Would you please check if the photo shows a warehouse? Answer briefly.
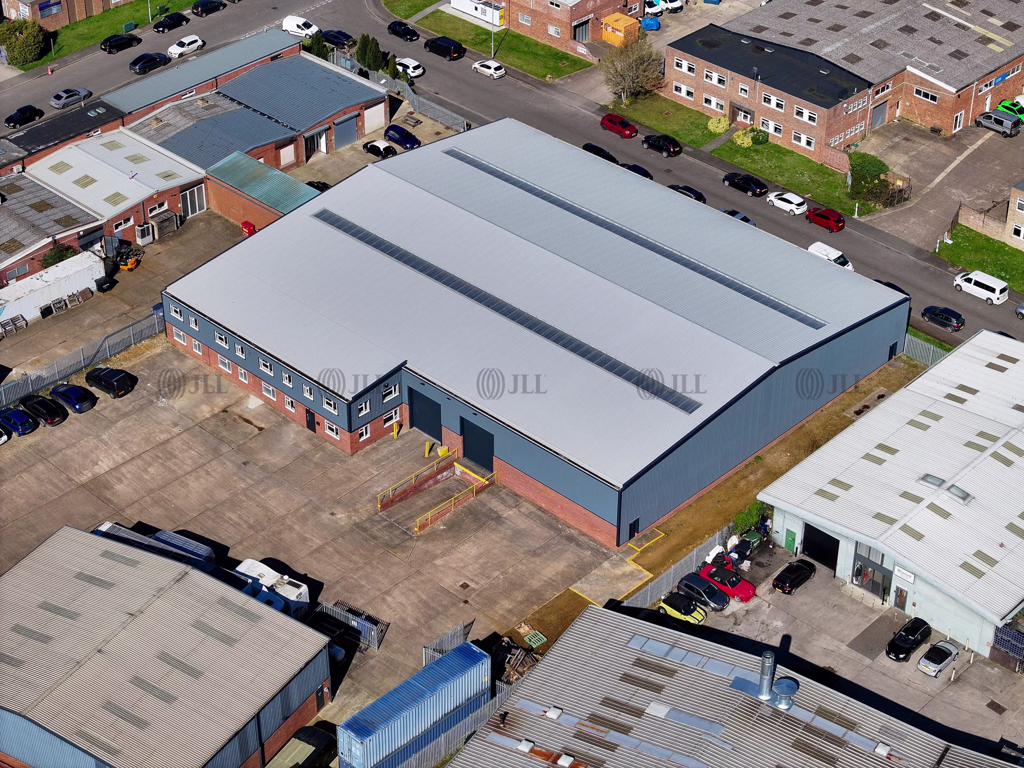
Yes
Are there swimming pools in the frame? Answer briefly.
No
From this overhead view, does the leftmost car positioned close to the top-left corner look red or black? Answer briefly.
black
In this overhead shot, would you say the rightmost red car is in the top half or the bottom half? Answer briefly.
top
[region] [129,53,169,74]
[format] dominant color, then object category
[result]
black car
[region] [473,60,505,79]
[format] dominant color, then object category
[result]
white car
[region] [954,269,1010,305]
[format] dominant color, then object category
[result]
white van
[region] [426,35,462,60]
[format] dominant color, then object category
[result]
black vehicle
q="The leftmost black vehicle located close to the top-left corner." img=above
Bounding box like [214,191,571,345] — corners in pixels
[4,104,41,128]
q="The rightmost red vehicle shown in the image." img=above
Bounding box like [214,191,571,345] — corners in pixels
[804,207,848,233]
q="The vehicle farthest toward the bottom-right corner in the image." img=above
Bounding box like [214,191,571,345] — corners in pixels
[917,642,959,678]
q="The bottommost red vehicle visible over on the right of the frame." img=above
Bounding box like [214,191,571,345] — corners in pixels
[716,562,759,603]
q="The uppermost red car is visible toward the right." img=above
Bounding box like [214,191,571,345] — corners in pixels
[600,114,636,138]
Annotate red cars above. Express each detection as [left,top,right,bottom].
[600,114,636,138]
[804,207,848,233]
[716,562,759,603]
